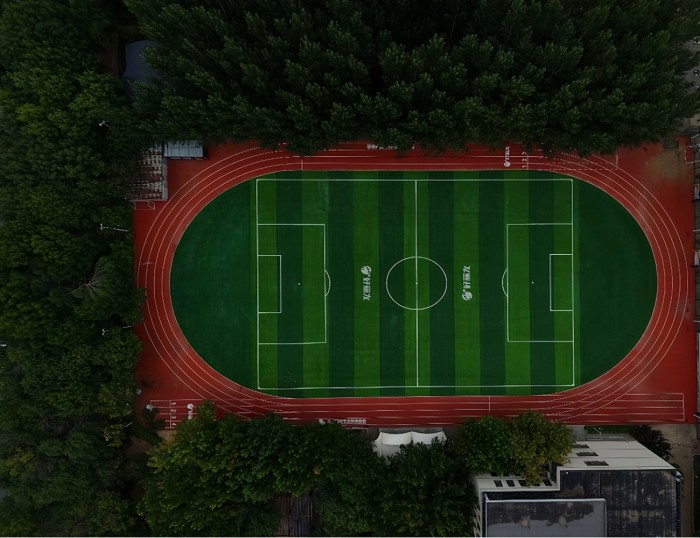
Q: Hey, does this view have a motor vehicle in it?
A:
No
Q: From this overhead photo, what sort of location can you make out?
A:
sports ground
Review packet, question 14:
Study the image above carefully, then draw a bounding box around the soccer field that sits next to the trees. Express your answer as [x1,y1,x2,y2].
[171,170,658,398]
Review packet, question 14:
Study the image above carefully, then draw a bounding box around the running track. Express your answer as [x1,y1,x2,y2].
[134,136,697,432]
